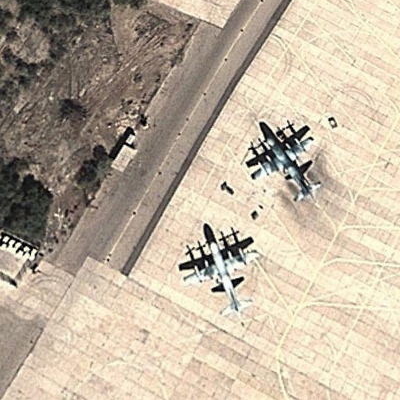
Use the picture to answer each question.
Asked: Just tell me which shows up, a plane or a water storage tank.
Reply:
plane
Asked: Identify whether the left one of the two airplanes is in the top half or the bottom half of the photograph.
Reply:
bottom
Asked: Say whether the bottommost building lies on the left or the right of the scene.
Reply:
left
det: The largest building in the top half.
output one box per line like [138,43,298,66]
[112,144,137,171]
